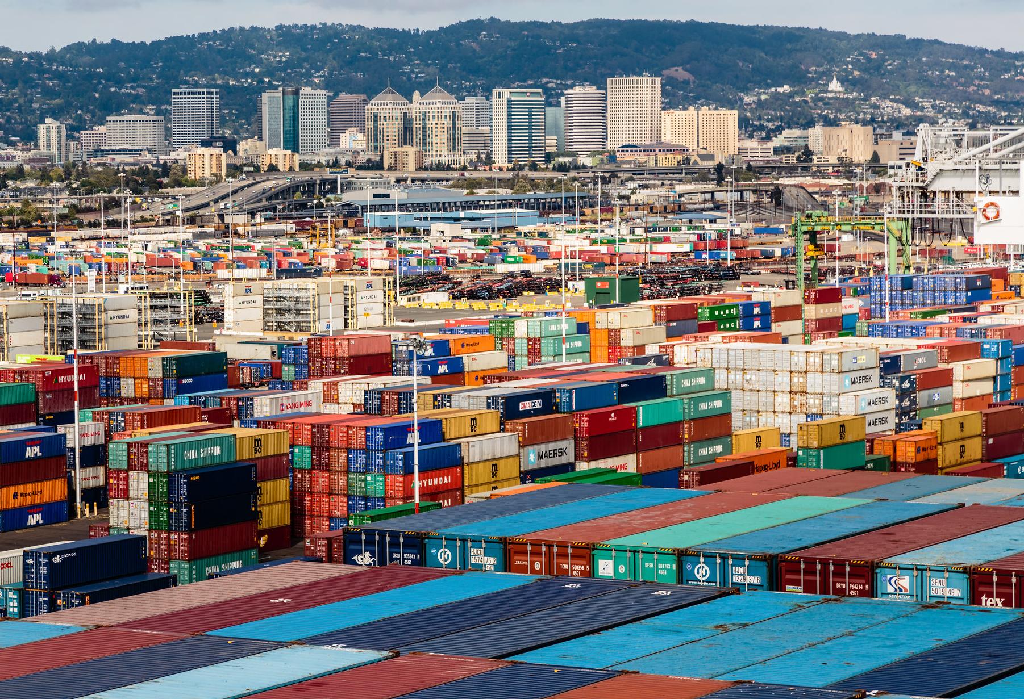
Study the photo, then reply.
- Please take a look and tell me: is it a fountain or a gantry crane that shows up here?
gantry crane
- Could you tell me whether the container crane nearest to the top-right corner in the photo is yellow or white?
white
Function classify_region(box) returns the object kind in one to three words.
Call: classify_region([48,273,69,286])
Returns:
vehicle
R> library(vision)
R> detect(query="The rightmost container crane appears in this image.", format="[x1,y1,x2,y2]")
[878,122,1024,246]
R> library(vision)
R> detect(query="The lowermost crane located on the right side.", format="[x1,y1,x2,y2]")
[788,203,915,327]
